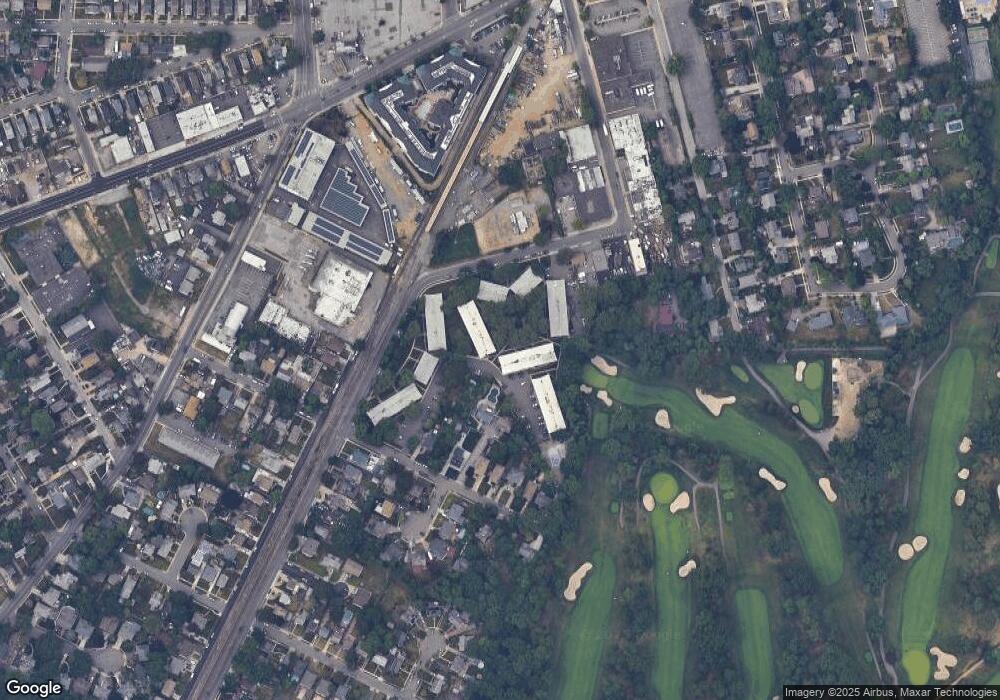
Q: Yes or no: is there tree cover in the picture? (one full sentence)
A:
Yes, there is tree cover in the image.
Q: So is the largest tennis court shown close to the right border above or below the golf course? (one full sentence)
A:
The largest tennis court shown close to the right border is located above the golf course in this view.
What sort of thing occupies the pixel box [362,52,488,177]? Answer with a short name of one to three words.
building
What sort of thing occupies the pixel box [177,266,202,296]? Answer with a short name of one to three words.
house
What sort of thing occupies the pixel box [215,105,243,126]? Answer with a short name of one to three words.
building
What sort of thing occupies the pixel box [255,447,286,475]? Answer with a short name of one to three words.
house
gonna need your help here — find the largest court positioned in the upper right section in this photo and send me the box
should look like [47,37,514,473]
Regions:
[969,41,993,81]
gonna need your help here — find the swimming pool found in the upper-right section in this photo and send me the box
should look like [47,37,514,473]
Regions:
[946,121,964,134]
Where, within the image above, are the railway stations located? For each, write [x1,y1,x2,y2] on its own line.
[425,45,521,232]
